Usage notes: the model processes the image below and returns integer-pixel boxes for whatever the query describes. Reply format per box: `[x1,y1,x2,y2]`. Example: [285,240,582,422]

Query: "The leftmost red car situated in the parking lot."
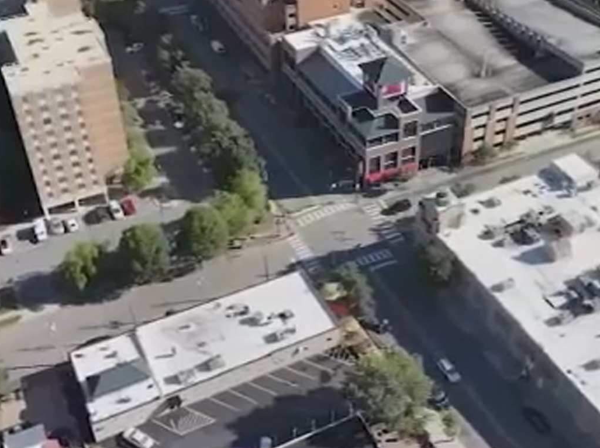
[121,195,136,216]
